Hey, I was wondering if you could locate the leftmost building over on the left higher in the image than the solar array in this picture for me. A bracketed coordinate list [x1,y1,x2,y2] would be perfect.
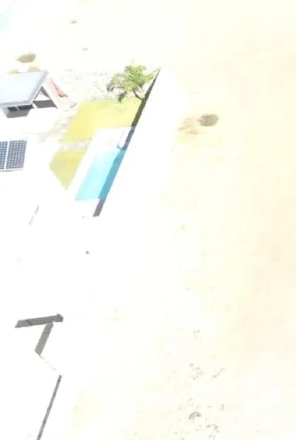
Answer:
[0,54,52,117]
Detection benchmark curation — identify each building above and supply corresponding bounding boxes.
[0,131,85,332]
[0,54,52,117]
